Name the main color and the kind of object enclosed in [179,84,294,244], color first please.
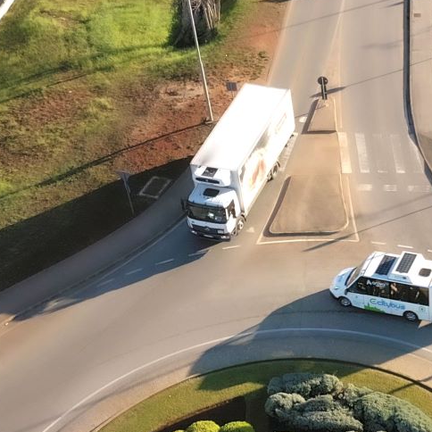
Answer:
white truck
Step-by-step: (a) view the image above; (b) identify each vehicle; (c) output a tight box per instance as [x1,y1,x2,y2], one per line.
[327,248,432,322]
[179,84,294,244]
